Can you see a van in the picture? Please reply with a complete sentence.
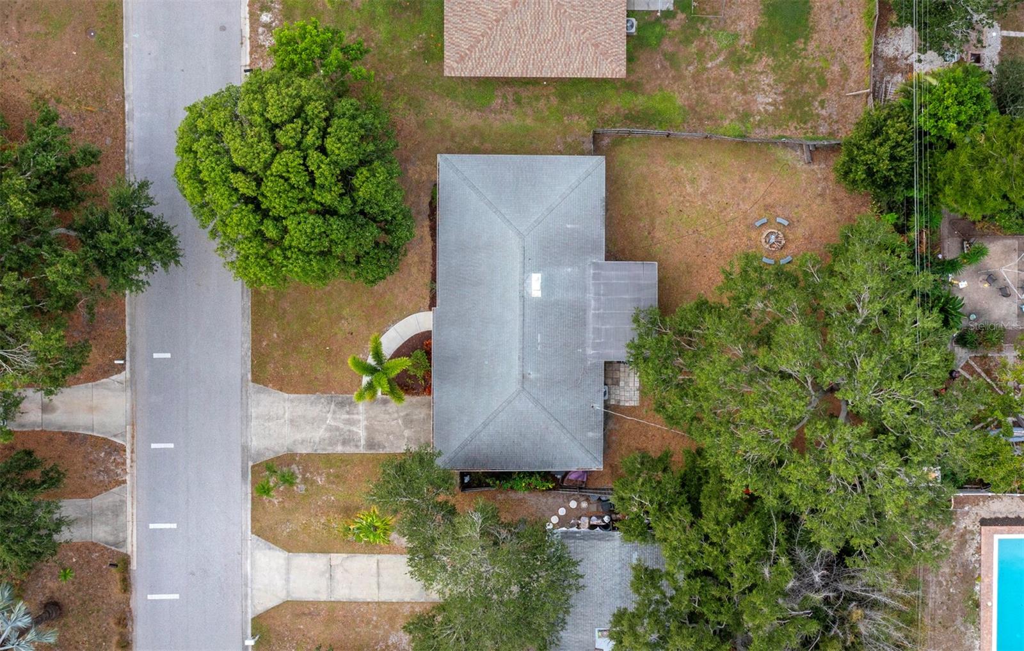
No, there isn't any van down there.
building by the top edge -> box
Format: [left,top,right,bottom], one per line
[443,0,628,79]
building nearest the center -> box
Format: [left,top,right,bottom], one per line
[431,153,658,472]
